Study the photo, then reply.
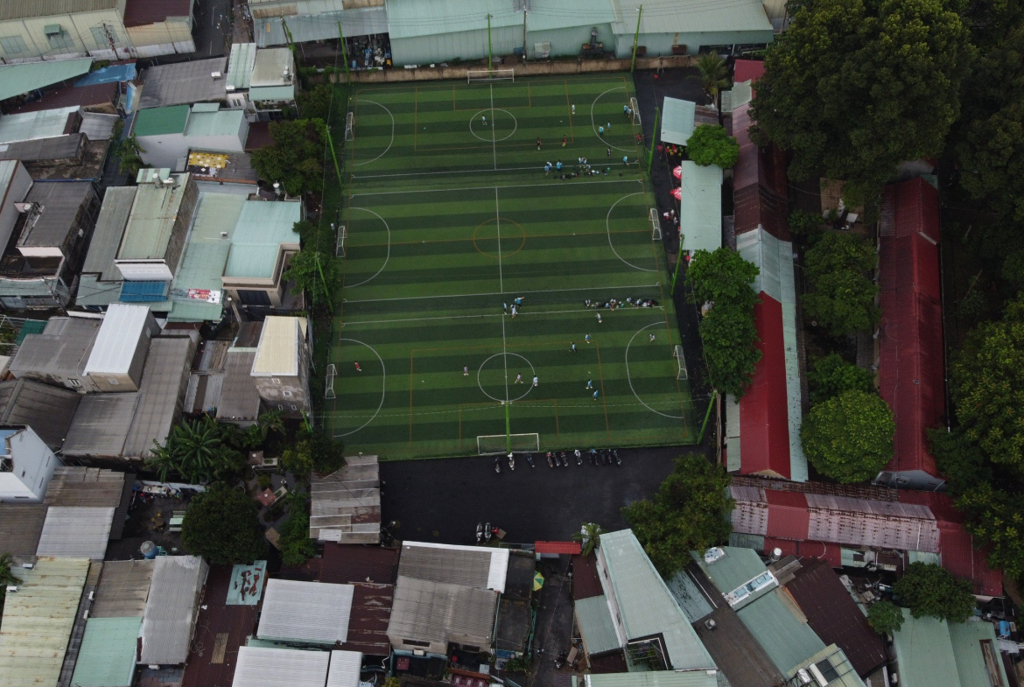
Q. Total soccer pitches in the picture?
three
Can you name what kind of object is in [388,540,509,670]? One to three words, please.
house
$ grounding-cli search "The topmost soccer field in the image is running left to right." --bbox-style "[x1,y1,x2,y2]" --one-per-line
[341,71,649,186]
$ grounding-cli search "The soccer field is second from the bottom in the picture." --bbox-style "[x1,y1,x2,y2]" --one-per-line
[331,171,671,312]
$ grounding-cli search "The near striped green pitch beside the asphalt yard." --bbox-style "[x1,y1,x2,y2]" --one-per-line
[321,296,697,460]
